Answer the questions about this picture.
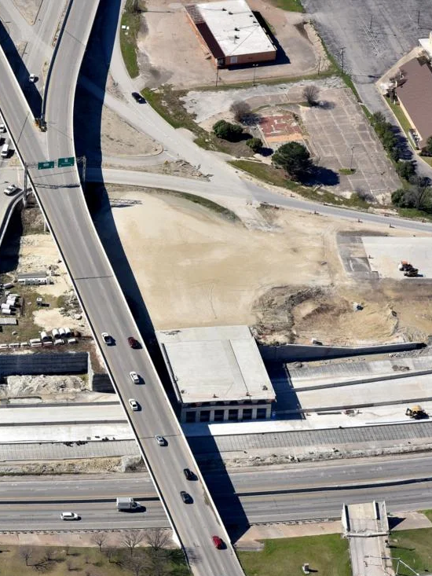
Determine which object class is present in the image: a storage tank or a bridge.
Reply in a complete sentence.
Visible in the photo is a bridge.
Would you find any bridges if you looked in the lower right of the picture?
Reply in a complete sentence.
Yes, a bridge appears in the lower right of the picture.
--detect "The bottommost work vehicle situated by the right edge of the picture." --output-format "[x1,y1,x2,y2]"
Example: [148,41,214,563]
[401,404,425,417]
